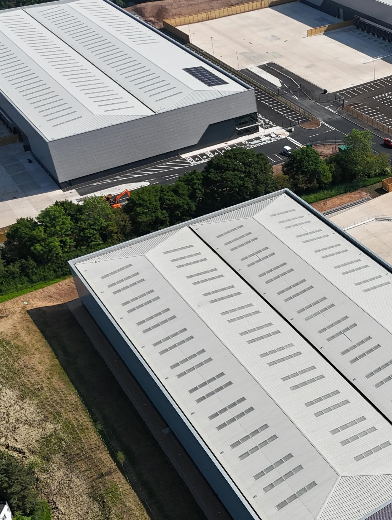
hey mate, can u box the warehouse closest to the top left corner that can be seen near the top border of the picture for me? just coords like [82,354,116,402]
[0,0,264,189]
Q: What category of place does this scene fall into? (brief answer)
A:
industrial area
